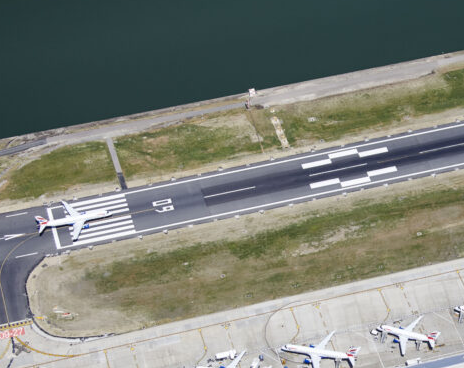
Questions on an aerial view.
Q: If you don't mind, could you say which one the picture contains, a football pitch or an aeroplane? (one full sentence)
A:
The image shows an aeroplane.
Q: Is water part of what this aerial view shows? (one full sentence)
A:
Yes, some water is visible.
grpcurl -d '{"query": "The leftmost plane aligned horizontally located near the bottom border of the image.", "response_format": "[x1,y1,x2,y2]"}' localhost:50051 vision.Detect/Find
[279,330,361,368]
